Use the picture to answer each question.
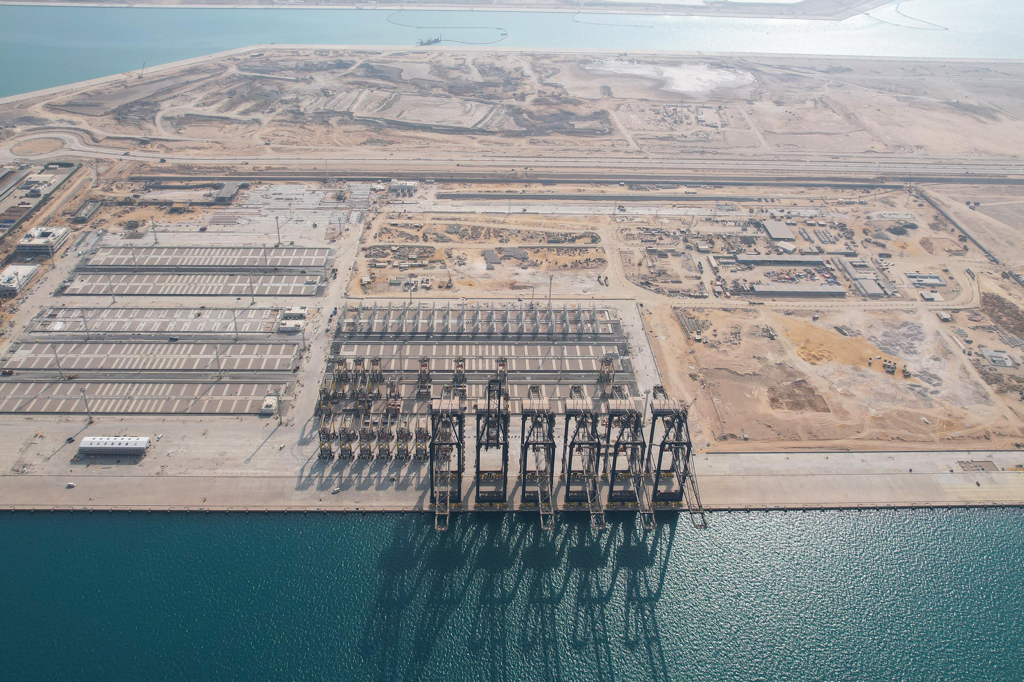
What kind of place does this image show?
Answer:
port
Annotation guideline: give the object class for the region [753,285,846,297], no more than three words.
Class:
shed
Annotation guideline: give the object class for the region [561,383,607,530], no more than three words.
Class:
container crane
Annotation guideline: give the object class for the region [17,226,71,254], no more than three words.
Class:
building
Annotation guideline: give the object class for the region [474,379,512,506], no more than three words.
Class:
container crane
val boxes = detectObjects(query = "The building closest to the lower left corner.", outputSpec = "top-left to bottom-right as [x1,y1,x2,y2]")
[80,438,152,456]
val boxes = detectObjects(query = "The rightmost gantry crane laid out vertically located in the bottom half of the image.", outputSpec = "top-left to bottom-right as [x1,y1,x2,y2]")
[644,383,707,529]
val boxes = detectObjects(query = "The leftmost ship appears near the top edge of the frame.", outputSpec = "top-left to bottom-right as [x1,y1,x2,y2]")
[415,23,444,46]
